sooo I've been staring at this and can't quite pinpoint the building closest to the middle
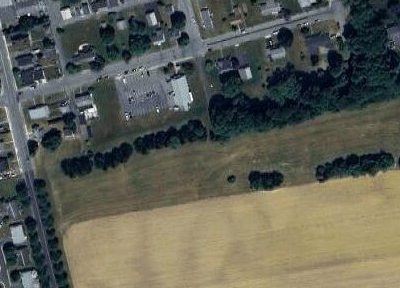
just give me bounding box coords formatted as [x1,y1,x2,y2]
[172,76,193,111]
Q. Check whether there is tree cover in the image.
Yes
